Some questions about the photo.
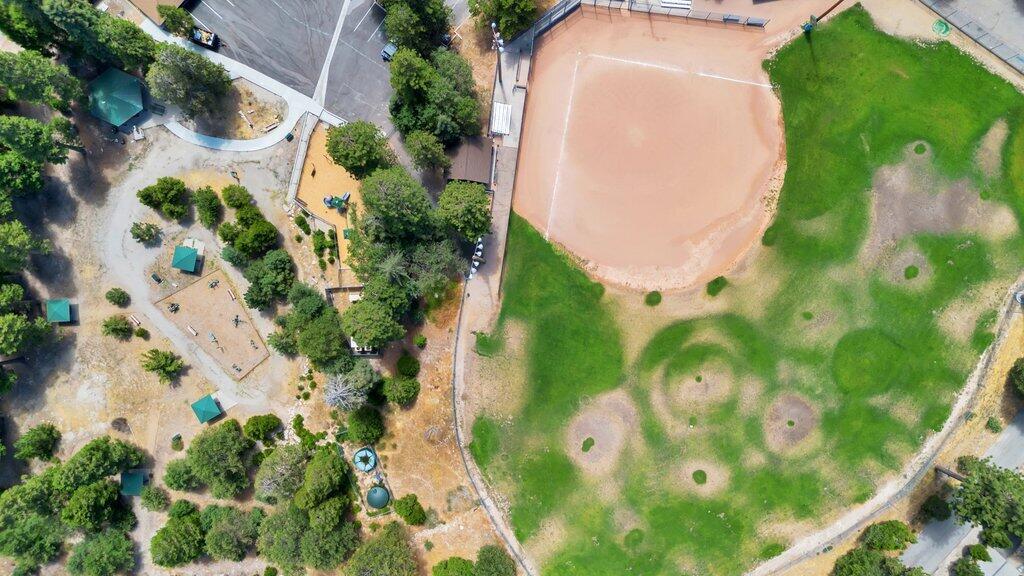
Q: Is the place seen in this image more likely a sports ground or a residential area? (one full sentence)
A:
This looks like a sports ground.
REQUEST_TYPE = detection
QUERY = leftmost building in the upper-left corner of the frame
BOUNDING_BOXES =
[88,68,151,128]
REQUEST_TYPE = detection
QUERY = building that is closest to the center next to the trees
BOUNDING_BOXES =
[449,138,493,183]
